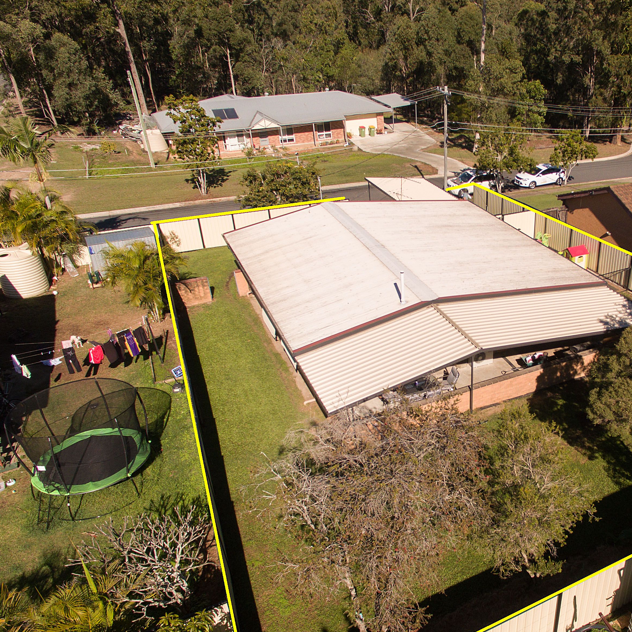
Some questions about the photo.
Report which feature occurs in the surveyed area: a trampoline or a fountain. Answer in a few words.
trampoline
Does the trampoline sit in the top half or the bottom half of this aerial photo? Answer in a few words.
bottom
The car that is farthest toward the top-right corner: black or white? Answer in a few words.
white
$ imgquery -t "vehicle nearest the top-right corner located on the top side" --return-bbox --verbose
[514,163,565,189]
